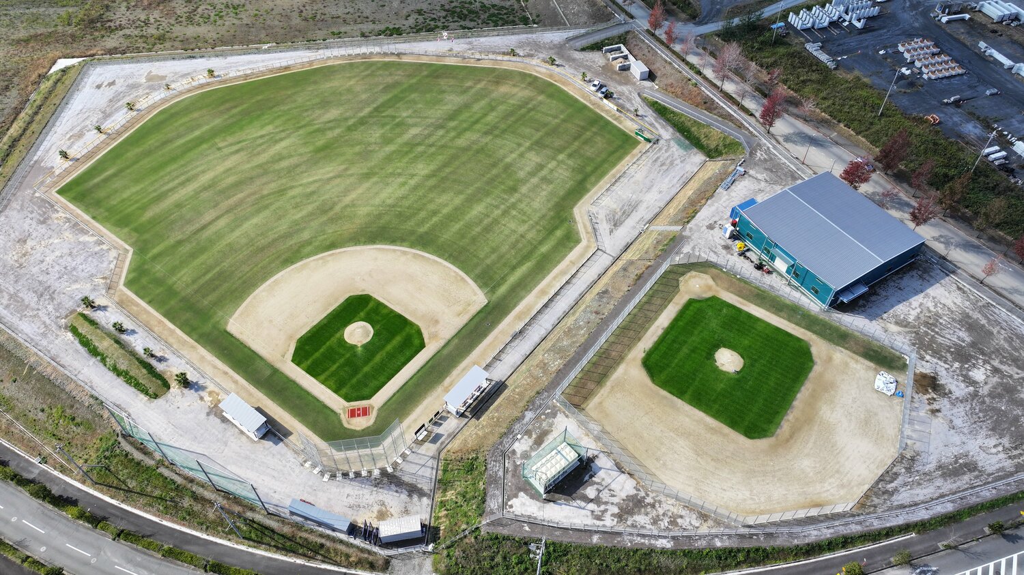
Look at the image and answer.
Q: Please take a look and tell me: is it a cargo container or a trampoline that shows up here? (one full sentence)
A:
Of the two, only a cargo container appears.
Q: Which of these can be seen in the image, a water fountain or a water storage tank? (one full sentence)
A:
This aerial view contains a water storage tank.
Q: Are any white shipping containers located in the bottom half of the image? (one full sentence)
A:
Yes, a white shipping container appears in the bottom half of the image.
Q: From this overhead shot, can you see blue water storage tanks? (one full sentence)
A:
No, I can't see a single blue water storage tank in this photo.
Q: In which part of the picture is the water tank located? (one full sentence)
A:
The water tank is in the bottom part of the image.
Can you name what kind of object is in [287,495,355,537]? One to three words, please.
shed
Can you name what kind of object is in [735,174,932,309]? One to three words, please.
building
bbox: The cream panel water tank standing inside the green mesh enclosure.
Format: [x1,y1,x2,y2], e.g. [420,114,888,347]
[529,440,583,493]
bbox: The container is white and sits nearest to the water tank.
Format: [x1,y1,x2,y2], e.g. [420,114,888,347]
[380,514,425,545]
